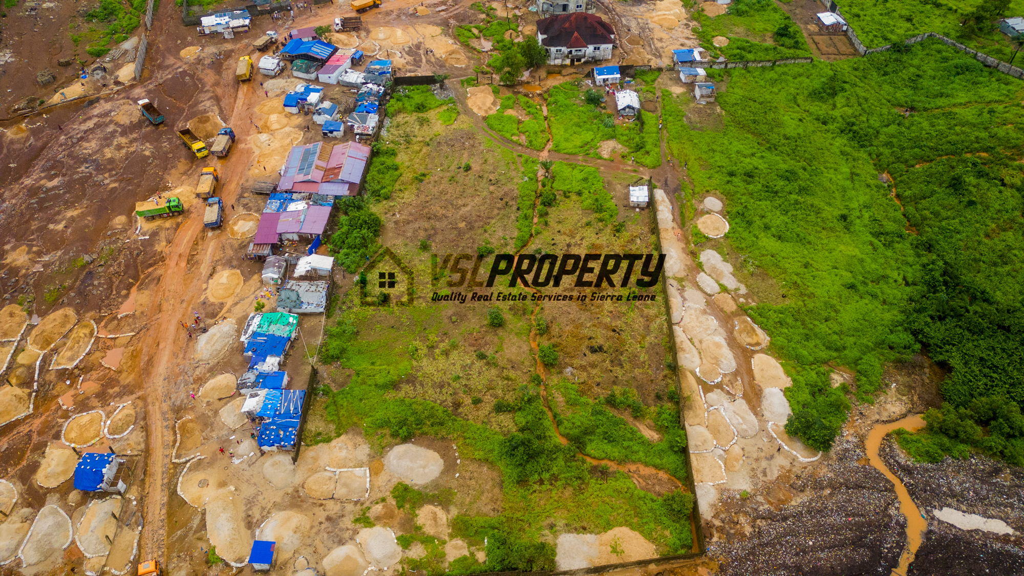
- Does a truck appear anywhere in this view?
Yes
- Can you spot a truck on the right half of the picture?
No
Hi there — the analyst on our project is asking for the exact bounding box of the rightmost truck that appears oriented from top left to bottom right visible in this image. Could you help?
[177,131,210,163]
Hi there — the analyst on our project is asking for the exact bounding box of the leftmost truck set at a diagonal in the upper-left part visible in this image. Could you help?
[136,99,167,129]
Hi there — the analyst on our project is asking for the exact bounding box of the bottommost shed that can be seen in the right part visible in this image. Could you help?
[629,186,648,209]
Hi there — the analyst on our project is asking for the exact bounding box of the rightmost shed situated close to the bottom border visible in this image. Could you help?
[249,541,278,571]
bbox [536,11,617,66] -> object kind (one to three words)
house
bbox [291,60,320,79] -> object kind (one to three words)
shed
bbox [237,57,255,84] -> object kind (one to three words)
vehicle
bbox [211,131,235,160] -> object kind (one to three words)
truck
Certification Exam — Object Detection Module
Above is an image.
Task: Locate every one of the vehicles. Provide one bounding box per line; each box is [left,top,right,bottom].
[335,17,362,31]
[137,558,169,576]
[252,31,280,52]
[211,131,235,160]
[135,198,186,220]
[352,0,385,15]
[177,131,210,163]
[136,99,167,129]
[204,198,226,232]
[196,168,219,201]
[237,57,255,84]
